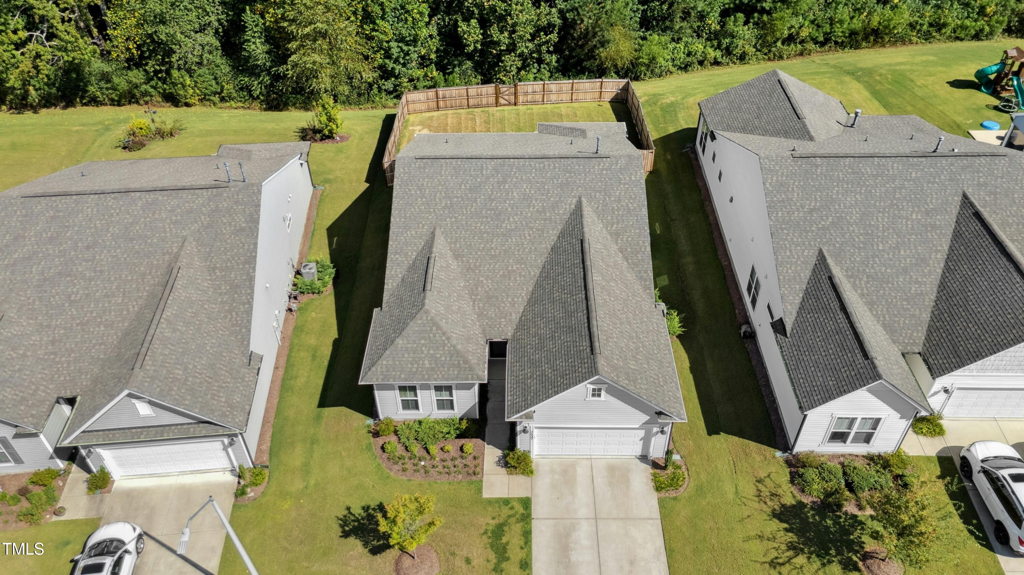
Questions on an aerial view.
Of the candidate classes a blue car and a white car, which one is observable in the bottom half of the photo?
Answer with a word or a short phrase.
white car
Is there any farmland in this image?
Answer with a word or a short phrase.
No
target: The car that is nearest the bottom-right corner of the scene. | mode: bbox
[965,444,1024,557]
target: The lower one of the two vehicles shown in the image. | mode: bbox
[71,520,142,575]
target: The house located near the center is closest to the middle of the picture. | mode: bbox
[357,121,689,457]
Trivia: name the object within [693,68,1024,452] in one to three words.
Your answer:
house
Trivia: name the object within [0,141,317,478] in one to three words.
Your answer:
house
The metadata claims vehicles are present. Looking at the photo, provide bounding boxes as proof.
[71,520,142,575]
[965,444,1024,557]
